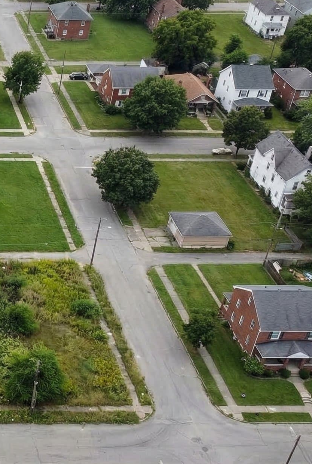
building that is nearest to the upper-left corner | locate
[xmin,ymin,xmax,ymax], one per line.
[42,0,94,38]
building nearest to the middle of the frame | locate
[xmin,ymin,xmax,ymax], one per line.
[168,213,233,247]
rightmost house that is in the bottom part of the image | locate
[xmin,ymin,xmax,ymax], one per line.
[217,279,312,376]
